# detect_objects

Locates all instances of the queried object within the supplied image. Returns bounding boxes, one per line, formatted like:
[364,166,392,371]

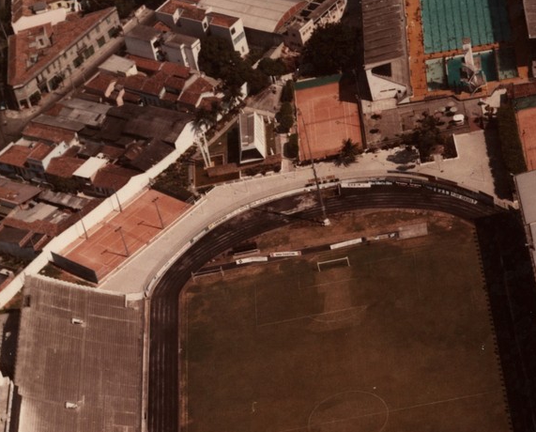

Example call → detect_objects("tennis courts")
[294,80,364,161]
[63,190,191,280]
[517,110,536,168]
